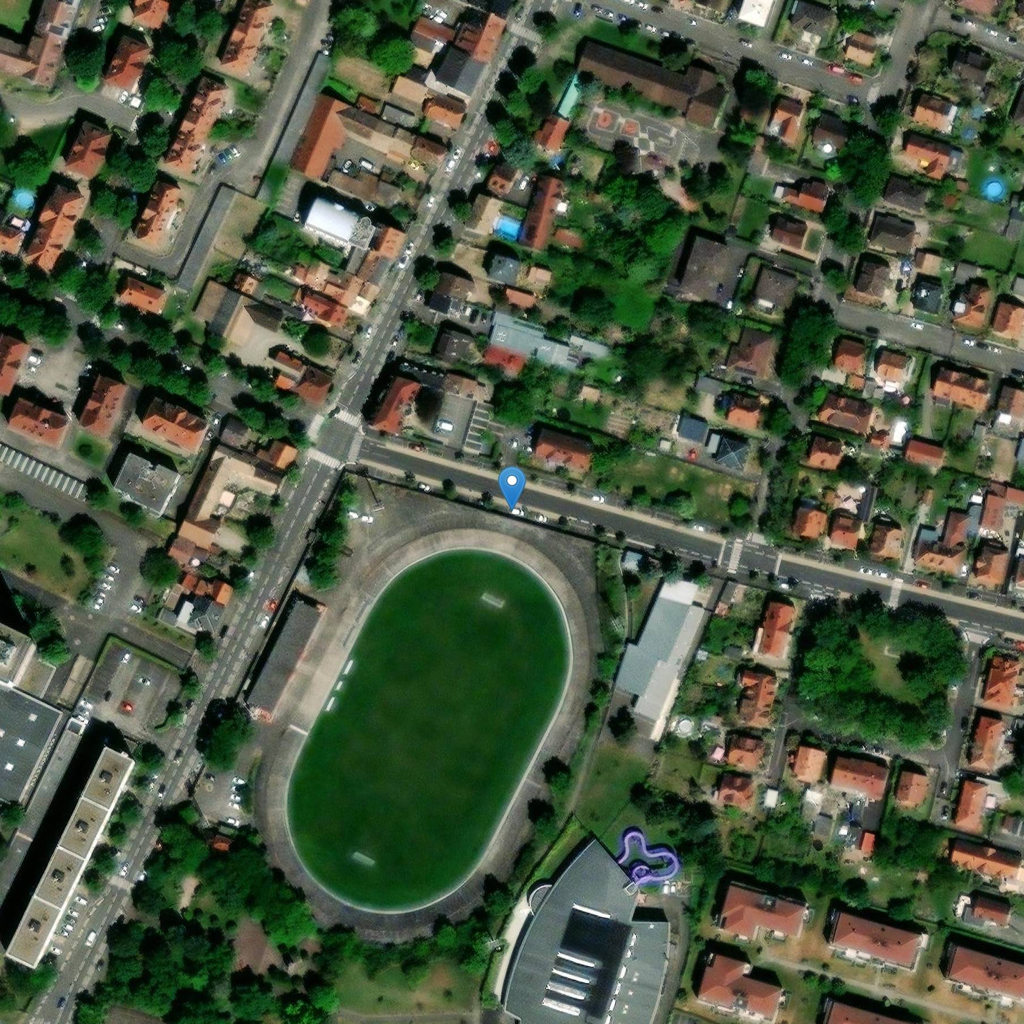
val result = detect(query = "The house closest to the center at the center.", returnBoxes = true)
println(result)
[532,423,596,467]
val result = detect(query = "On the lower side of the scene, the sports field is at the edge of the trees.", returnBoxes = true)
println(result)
[290,552,567,908]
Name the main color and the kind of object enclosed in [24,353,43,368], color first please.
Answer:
white vehicle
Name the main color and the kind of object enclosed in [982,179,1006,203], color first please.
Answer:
blue swimming pool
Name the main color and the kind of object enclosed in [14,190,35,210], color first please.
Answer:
blue swimming pool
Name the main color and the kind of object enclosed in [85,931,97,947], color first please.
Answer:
white vehicle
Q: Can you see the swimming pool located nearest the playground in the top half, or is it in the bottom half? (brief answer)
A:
top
